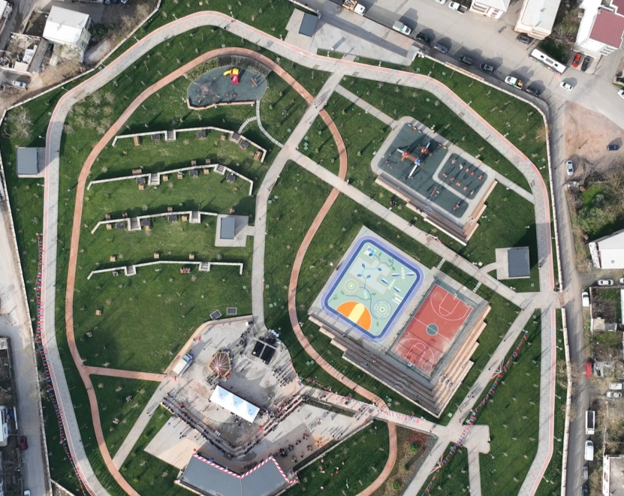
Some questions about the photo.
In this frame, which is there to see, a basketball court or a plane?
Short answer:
basketball court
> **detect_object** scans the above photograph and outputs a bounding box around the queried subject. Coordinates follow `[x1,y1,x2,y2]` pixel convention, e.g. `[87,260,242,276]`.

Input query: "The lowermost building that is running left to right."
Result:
[181,454,289,496]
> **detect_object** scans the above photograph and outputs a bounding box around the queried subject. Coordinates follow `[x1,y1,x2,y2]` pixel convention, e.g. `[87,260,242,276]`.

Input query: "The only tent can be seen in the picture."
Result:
[210,385,260,422]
